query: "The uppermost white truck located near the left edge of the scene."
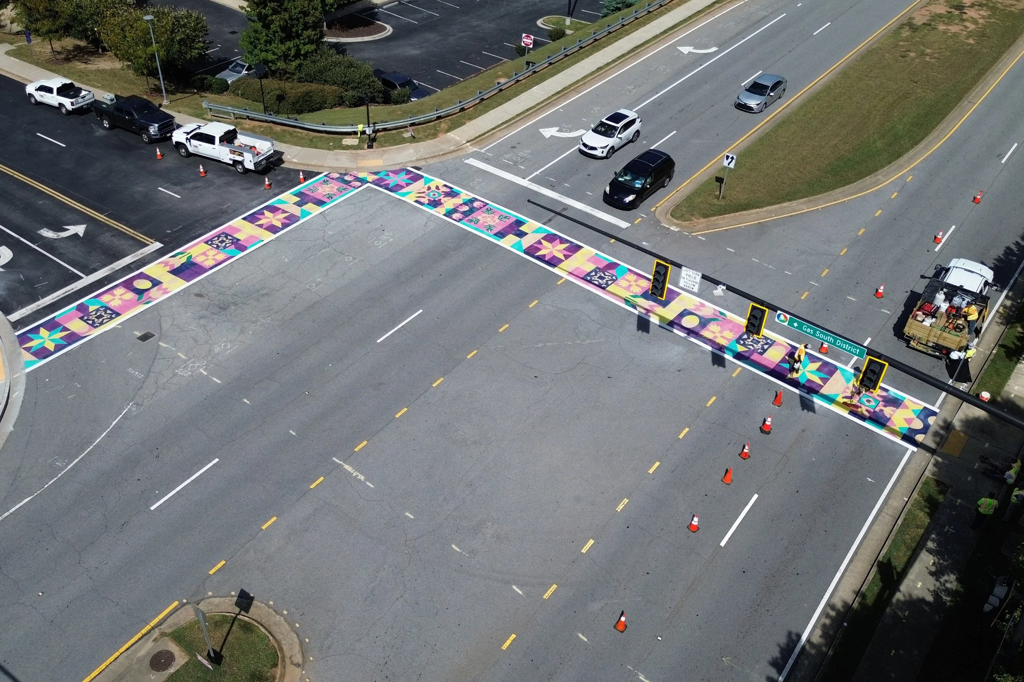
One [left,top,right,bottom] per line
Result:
[23,76,97,114]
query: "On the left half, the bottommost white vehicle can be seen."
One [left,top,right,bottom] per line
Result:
[169,117,288,173]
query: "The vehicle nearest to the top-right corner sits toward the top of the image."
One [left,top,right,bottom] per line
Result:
[734,73,786,111]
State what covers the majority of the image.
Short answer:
paved ground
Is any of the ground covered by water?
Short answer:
No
